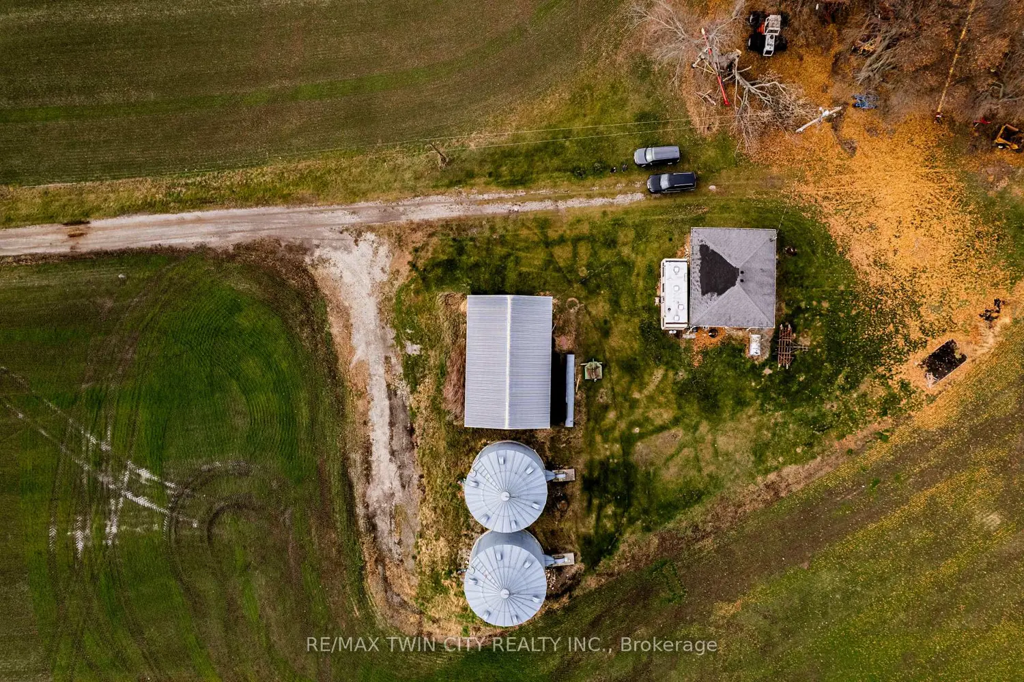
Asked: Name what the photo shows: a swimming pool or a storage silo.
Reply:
storage silo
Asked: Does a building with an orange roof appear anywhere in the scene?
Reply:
No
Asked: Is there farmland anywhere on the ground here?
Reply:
Yes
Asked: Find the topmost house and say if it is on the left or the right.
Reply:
right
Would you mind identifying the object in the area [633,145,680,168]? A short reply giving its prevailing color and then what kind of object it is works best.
gray car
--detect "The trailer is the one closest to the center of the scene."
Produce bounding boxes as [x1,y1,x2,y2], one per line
[650,260,688,340]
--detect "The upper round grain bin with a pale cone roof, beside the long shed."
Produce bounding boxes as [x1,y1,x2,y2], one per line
[461,439,577,533]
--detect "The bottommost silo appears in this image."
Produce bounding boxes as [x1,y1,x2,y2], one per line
[461,528,576,627]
